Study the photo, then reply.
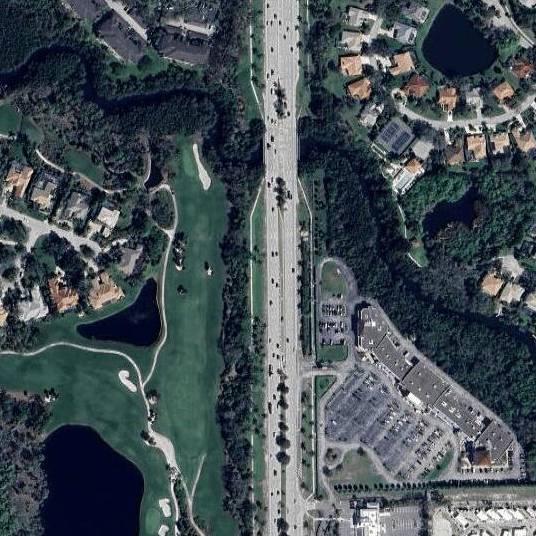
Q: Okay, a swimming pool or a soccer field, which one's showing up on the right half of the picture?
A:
swimming pool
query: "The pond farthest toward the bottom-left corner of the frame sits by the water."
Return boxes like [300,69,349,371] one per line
[77,276,162,347]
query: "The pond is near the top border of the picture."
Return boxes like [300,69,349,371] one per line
[423,3,500,78]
